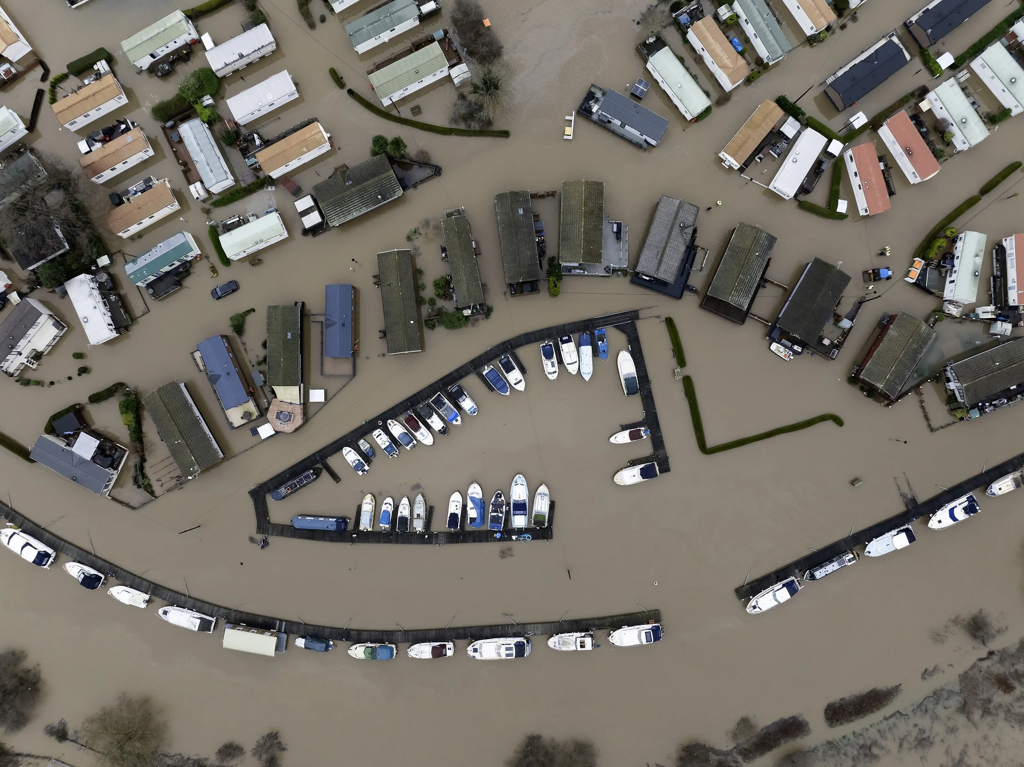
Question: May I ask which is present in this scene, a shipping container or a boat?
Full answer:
Looking from above, you can make out a boat.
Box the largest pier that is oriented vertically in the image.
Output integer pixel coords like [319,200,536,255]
[625,326,671,472]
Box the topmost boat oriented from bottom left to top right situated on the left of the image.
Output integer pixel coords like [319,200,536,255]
[271,466,324,500]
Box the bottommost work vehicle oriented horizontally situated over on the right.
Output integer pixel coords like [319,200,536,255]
[859,265,895,283]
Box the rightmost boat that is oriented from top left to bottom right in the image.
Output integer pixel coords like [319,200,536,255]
[771,343,794,361]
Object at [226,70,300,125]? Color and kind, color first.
white camper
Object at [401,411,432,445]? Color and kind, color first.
white boat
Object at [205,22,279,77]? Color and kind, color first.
white camper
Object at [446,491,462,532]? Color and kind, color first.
white boat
